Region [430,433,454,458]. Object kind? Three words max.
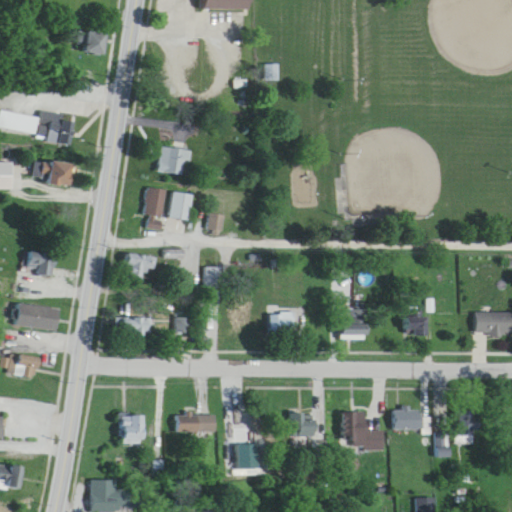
building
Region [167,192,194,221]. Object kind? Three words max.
barn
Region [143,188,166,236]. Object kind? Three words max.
house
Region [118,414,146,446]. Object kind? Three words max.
house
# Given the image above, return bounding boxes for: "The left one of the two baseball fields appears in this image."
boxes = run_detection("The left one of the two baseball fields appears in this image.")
[336,128,442,221]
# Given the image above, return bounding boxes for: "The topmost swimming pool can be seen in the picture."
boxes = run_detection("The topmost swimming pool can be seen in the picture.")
[356,271,375,288]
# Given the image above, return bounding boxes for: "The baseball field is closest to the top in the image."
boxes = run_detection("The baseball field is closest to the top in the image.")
[429,0,512,76]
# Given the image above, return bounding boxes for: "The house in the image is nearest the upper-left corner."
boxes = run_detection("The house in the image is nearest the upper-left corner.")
[76,30,108,56]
